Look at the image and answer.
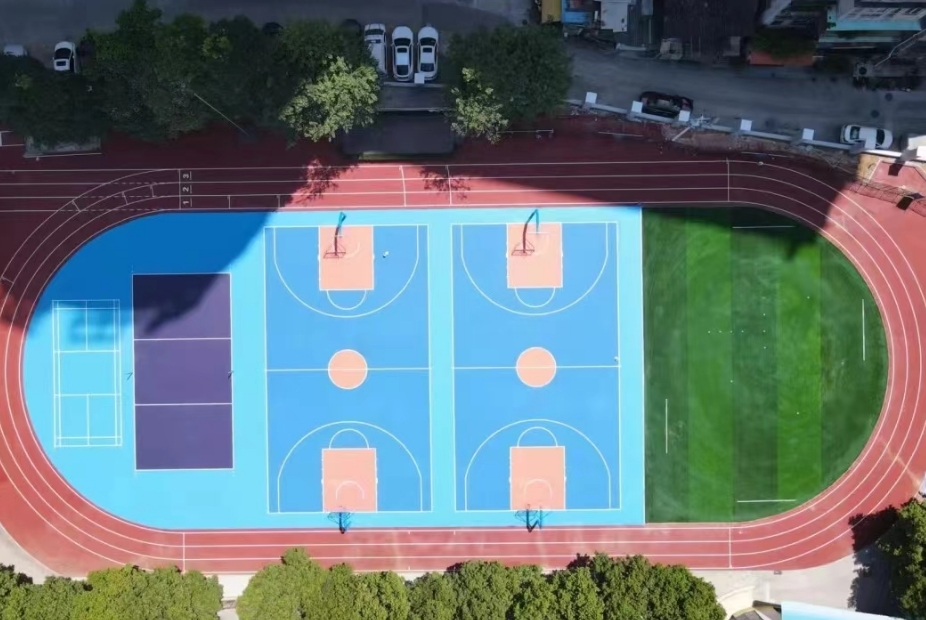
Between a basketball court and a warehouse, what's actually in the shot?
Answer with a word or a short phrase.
basketball court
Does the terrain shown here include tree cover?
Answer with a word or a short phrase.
Yes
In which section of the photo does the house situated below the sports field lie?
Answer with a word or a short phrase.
bottom right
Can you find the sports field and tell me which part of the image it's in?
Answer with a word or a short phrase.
right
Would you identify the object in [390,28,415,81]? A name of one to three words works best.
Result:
car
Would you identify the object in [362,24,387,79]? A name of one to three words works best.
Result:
car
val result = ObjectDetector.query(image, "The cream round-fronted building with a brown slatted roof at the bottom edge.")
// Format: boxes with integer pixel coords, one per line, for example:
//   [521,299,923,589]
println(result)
[719,582,780,620]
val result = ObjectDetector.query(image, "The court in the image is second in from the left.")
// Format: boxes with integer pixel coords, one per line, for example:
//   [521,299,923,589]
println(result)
[133,272,232,470]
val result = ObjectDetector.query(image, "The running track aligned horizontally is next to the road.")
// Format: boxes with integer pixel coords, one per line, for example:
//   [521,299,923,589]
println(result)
[0,118,926,578]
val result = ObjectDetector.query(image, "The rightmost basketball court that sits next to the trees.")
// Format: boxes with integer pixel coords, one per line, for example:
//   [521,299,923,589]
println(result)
[453,222,619,512]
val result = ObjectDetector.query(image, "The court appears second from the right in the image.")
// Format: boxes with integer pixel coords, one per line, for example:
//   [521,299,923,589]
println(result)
[265,225,431,514]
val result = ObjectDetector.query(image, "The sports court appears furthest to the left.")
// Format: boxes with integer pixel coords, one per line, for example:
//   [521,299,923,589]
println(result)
[53,299,121,446]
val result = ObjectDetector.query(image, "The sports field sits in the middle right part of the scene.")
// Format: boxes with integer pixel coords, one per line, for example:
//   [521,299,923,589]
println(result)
[641,205,890,525]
